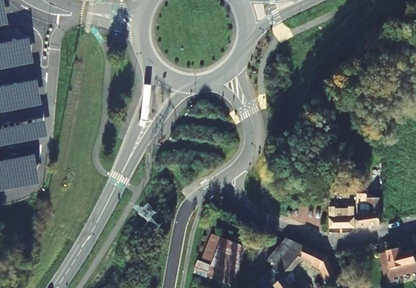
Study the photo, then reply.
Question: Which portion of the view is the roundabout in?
top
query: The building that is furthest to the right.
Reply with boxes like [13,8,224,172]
[380,248,416,280]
